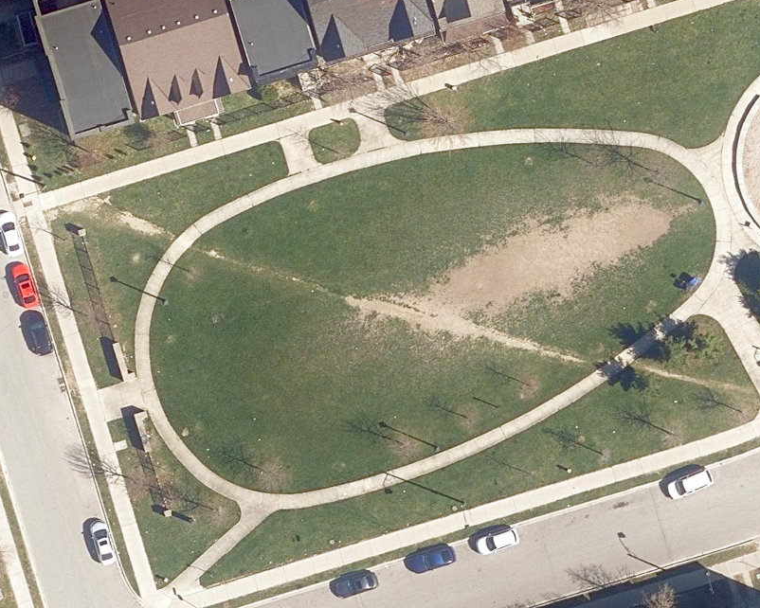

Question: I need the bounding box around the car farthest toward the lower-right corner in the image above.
[666,469,716,499]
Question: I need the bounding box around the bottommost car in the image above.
[334,572,381,599]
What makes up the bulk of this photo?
grass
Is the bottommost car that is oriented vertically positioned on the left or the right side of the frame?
left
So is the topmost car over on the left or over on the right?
left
